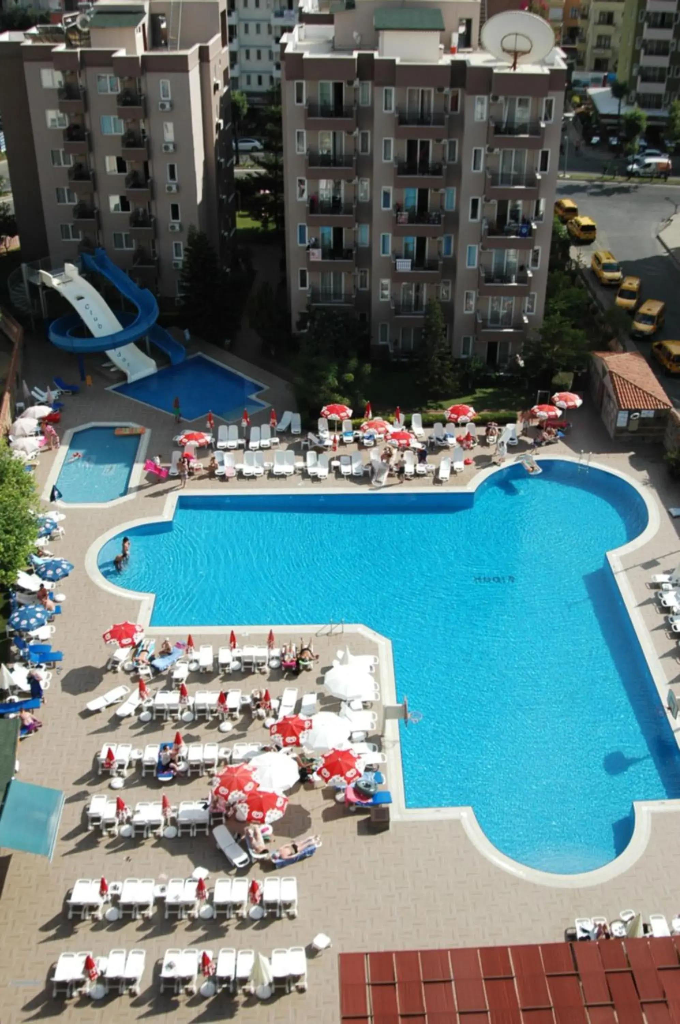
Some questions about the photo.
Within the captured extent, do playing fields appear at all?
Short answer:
No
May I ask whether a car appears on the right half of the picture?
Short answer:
Yes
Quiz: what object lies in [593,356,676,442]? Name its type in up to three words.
shed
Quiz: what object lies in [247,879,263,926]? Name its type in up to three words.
umbrella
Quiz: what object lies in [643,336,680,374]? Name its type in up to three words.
car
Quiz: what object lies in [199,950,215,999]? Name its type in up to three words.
umbrella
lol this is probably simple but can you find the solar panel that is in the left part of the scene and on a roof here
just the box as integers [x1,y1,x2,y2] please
[25,21,84,41]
